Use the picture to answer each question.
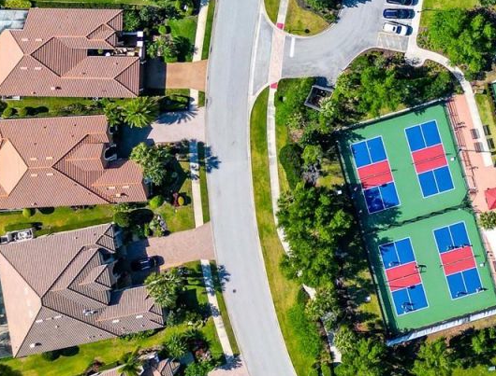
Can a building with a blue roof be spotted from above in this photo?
No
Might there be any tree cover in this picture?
Yes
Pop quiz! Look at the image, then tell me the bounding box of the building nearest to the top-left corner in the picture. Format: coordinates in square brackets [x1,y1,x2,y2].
[0,8,143,98]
